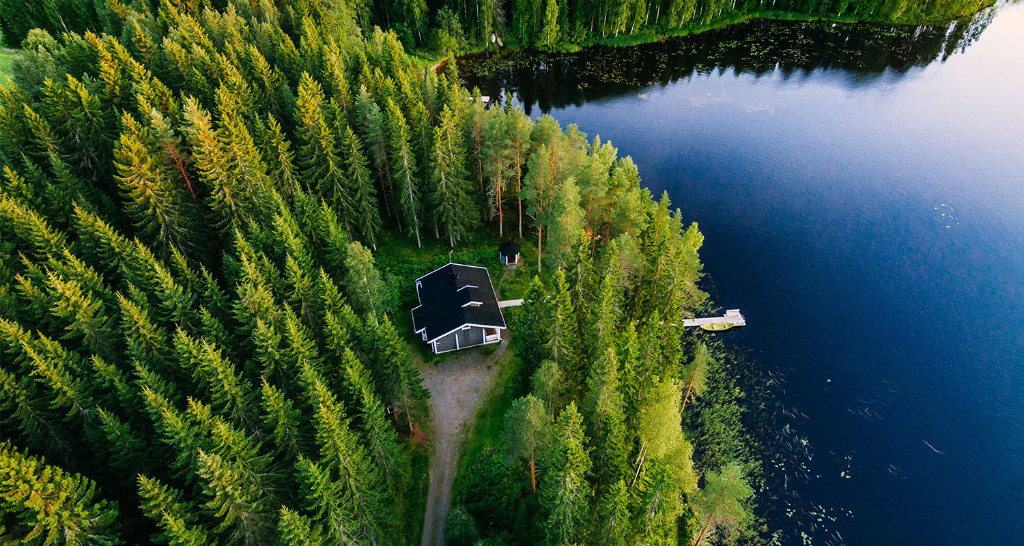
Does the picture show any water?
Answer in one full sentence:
Yes, water can be seen from above here.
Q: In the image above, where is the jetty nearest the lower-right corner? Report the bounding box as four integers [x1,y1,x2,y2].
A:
[691,308,747,328]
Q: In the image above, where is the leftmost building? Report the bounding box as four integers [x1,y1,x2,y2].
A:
[410,247,507,353]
